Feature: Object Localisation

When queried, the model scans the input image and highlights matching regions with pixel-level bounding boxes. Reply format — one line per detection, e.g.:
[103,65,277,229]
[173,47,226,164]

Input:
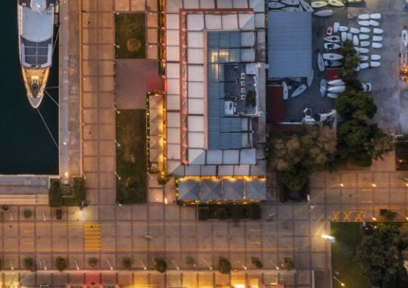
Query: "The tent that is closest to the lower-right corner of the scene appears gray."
[242,177,266,205]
